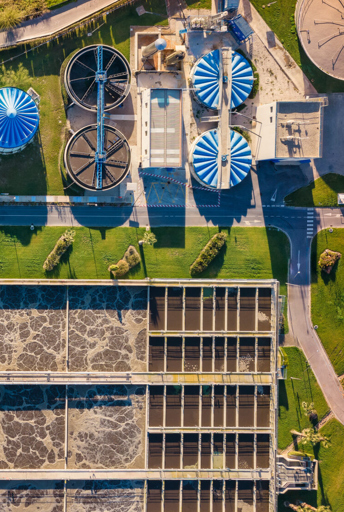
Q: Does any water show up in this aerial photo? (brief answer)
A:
Yes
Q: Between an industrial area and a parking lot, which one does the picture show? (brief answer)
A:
industrial area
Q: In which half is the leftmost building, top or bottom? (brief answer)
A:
top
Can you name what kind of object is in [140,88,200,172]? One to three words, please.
building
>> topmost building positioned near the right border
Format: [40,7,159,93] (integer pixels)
[256,97,330,166]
